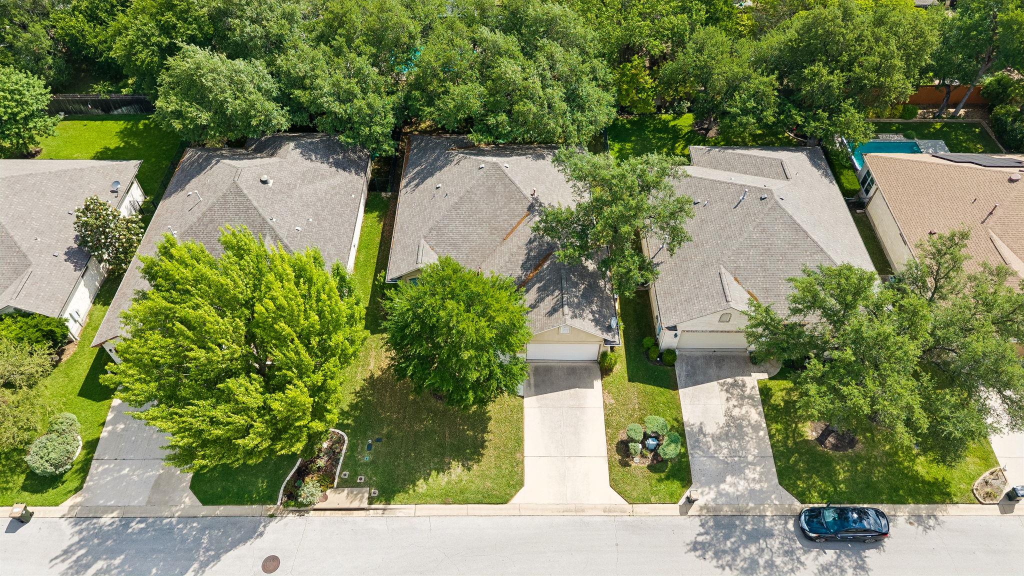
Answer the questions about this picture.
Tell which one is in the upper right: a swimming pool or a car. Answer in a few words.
swimming pool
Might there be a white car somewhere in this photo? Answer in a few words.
No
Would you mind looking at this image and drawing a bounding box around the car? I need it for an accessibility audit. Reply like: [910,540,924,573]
[797,504,896,548]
